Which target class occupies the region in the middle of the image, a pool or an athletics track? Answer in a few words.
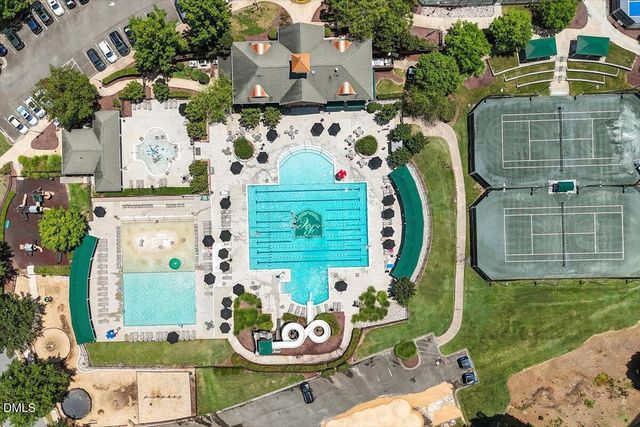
pool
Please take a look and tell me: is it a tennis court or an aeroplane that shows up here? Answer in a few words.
tennis court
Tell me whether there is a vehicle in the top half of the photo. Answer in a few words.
Yes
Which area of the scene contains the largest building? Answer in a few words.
top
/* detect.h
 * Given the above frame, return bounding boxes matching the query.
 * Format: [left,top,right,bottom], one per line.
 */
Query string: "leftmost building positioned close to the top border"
[219,18,373,116]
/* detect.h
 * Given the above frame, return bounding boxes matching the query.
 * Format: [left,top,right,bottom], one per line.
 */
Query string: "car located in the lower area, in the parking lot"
[301,379,314,406]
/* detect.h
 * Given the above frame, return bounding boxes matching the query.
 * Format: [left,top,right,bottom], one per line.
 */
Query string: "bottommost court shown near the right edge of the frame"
[471,187,640,280]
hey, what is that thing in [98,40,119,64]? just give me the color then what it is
white car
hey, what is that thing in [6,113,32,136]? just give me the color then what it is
white car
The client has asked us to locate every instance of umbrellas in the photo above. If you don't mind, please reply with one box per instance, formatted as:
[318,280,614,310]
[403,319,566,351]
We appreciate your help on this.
[381,193,394,206]
[381,208,394,221]
[204,273,216,284]
[218,248,230,259]
[220,307,232,319]
[178,104,191,116]
[94,205,108,217]
[256,151,268,164]
[334,279,347,292]
[202,234,215,247]
[219,198,231,208]
[337,170,346,179]
[233,283,245,296]
[219,321,232,333]
[230,163,243,174]
[368,156,382,169]
[266,129,279,142]
[381,238,396,250]
[311,123,324,136]
[219,260,231,271]
[221,296,233,308]
[381,225,394,238]
[168,330,181,342]
[328,123,341,135]
[107,328,119,338]
[220,229,232,242]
